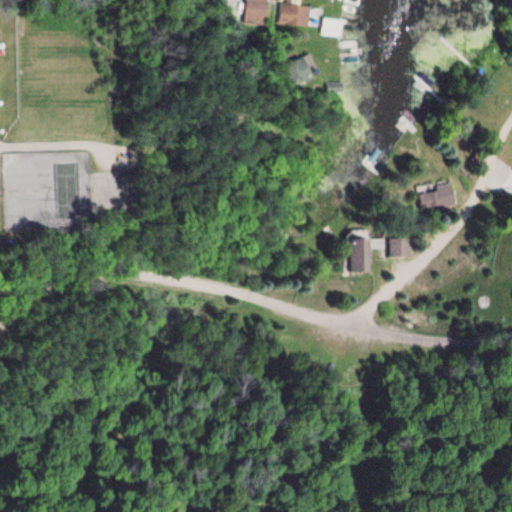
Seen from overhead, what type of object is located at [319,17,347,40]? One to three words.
building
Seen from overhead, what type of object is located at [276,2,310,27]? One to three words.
house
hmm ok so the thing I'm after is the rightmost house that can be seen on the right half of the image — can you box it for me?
[416,178,455,209]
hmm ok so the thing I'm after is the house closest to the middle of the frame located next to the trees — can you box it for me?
[350,238,372,273]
